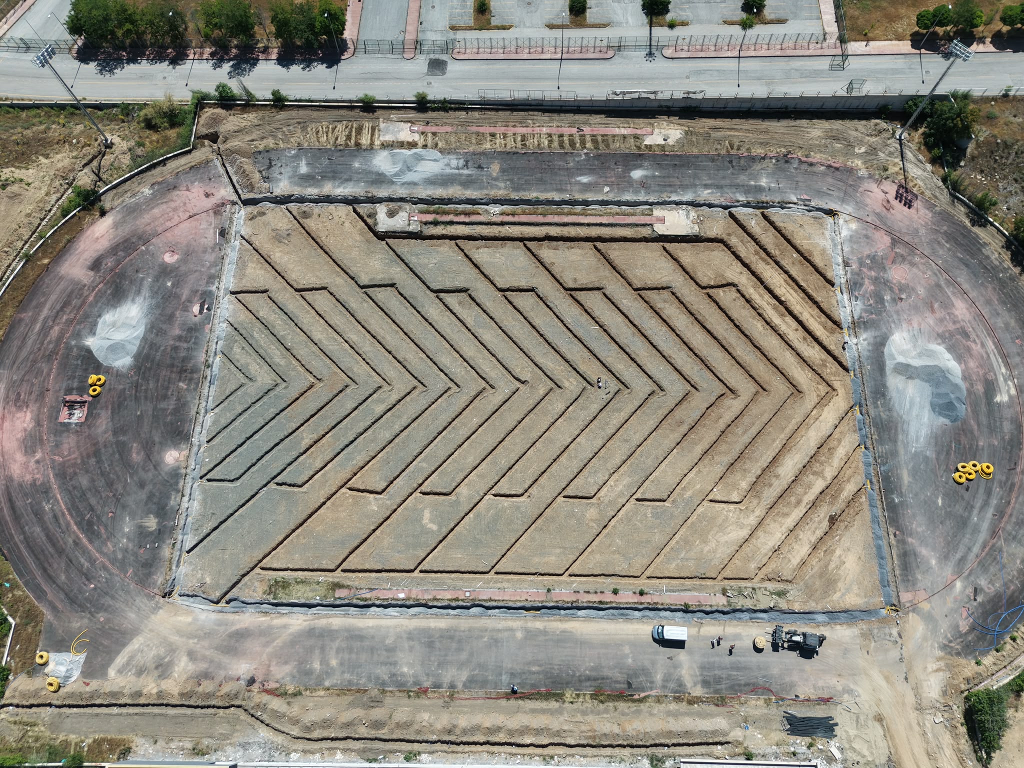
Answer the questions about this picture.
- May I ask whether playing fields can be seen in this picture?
Yes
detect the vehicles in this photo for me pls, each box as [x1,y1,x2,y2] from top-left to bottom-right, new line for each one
[770,629,828,651]
[651,624,689,643]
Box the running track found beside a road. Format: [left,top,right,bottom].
[0,149,1024,696]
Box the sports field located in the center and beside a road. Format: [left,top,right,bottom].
[182,205,882,607]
